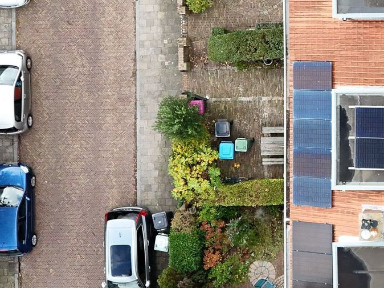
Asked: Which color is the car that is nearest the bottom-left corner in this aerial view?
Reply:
blue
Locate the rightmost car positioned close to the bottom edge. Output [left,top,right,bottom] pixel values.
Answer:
[97,204,155,288]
